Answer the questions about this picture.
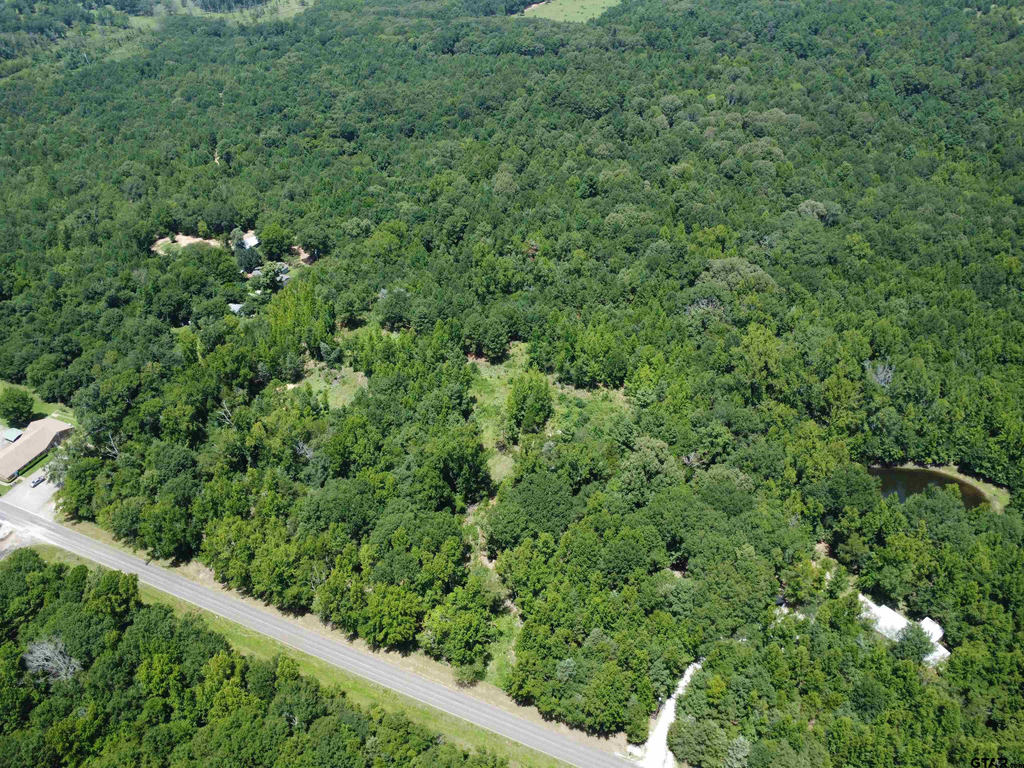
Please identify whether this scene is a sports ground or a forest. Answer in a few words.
forest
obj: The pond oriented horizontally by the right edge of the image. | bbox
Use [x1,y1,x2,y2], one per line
[864,467,990,517]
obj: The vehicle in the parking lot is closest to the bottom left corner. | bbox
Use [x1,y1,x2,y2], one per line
[29,476,47,488]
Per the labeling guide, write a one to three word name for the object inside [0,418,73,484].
building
